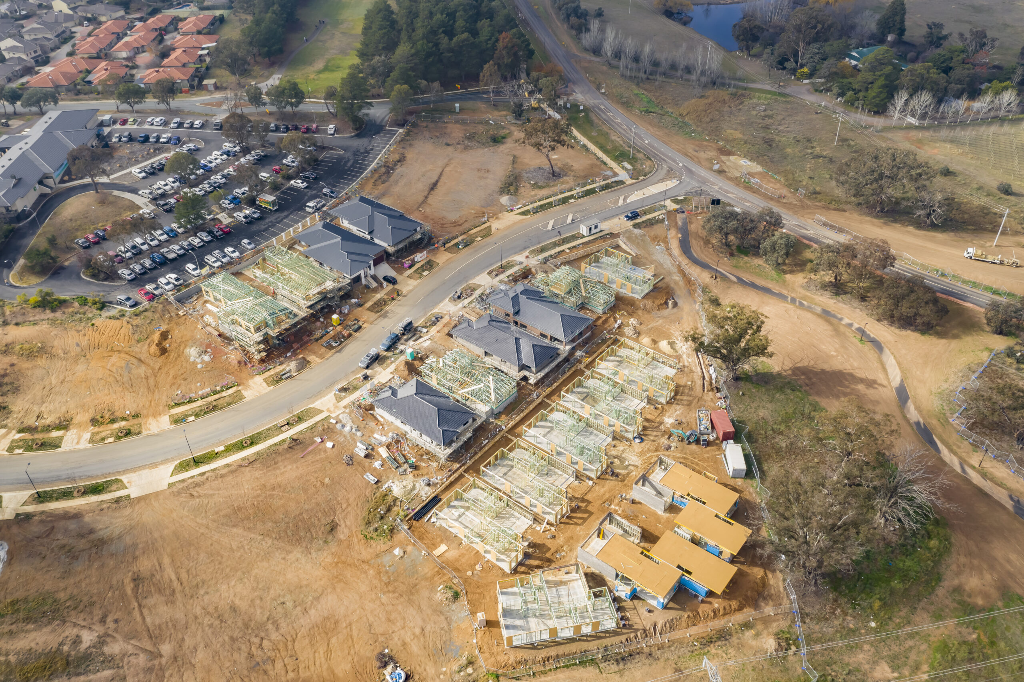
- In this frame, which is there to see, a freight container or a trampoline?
freight container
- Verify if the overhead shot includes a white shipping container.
Yes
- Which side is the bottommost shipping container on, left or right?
right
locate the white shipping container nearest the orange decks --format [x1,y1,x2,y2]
[721,444,747,480]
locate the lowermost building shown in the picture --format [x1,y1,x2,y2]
[576,526,615,563]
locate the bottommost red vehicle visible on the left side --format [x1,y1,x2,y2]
[137,288,156,301]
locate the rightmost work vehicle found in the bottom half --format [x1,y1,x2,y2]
[670,426,699,444]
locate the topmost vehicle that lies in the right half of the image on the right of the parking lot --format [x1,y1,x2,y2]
[623,209,641,221]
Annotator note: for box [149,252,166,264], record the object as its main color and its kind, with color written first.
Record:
blue vehicle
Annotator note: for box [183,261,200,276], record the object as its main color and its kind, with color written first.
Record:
white car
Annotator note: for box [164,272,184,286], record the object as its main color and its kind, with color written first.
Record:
white vehicle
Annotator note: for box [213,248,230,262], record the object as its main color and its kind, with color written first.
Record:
gray car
